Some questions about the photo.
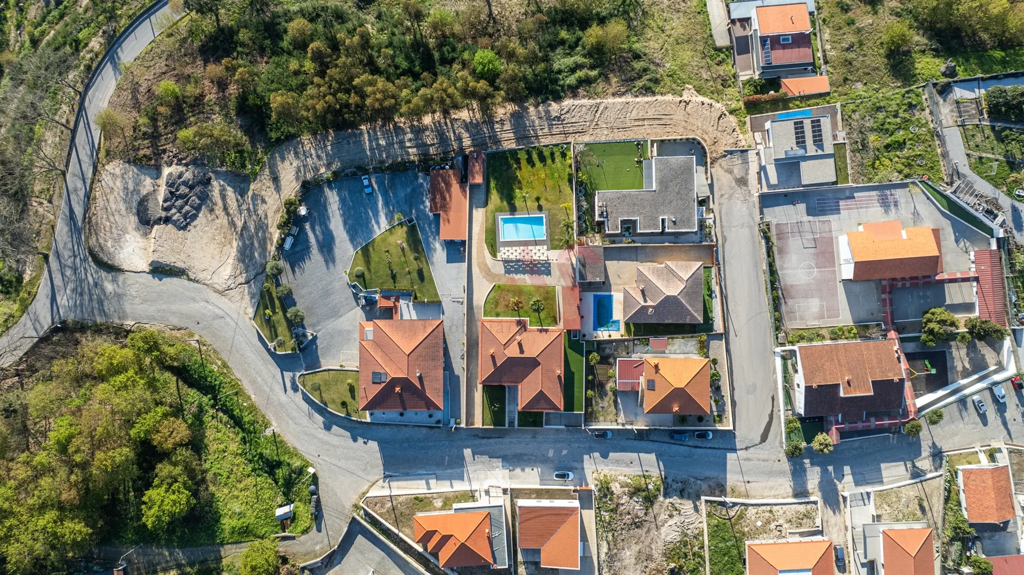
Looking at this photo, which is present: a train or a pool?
pool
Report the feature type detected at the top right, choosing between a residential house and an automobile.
residential house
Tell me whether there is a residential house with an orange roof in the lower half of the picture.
Yes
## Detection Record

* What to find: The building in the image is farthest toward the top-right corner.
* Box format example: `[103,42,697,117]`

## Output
[976,194,1010,226]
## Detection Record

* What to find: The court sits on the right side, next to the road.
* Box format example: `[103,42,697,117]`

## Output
[775,220,840,322]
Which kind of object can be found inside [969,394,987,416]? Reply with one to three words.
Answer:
car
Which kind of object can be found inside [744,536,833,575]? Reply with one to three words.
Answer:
house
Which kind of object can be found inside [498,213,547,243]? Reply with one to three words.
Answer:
swimming pool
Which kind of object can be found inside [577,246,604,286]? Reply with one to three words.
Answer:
shed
